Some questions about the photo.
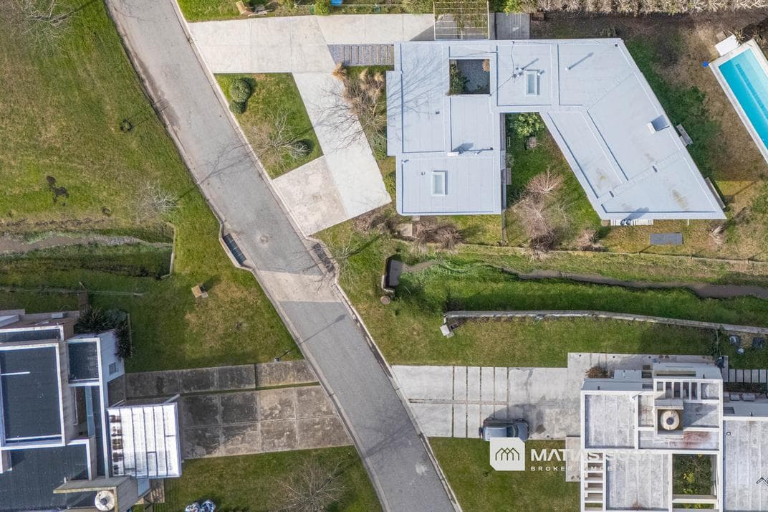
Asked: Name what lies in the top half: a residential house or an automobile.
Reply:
residential house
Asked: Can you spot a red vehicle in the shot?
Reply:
No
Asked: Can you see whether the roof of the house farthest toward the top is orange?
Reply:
No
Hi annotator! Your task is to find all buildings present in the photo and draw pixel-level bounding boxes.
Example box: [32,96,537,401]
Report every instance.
[581,364,768,512]
[386,38,725,224]
[0,319,196,512]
